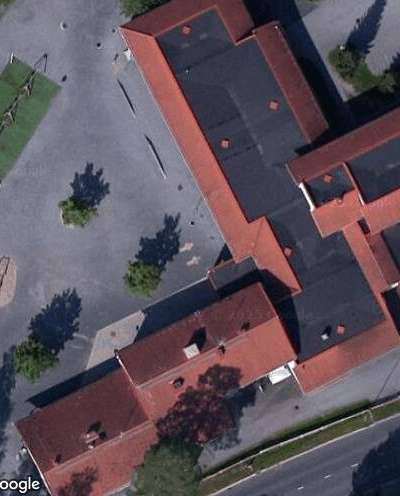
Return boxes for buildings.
[121,0,400,395]
[15,281,297,496]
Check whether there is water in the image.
No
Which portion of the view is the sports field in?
top left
